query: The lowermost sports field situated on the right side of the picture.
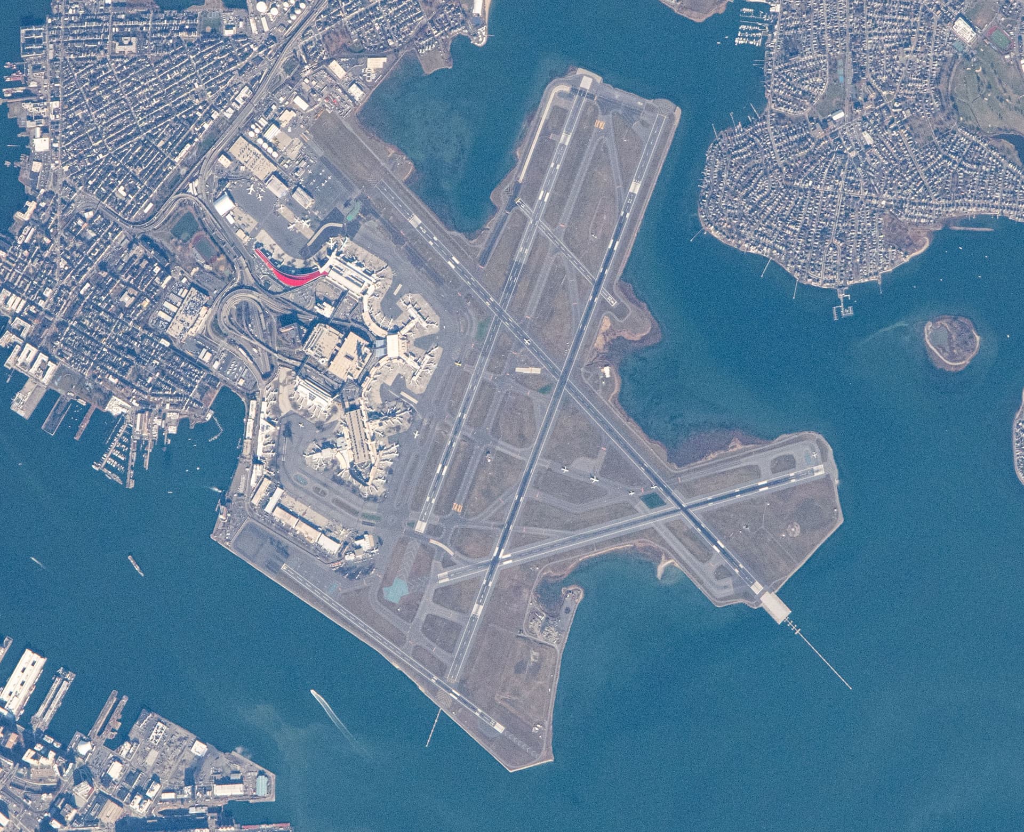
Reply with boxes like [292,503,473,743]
[813,77,847,118]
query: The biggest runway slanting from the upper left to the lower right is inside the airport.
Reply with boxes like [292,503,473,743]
[375,178,765,595]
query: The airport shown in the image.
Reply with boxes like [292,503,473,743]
[211,68,842,771]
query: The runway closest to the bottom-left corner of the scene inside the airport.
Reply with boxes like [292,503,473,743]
[282,564,505,732]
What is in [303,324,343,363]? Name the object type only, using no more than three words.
building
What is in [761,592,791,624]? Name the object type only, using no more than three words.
pier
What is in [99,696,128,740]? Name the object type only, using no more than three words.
pier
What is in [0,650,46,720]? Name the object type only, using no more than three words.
building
